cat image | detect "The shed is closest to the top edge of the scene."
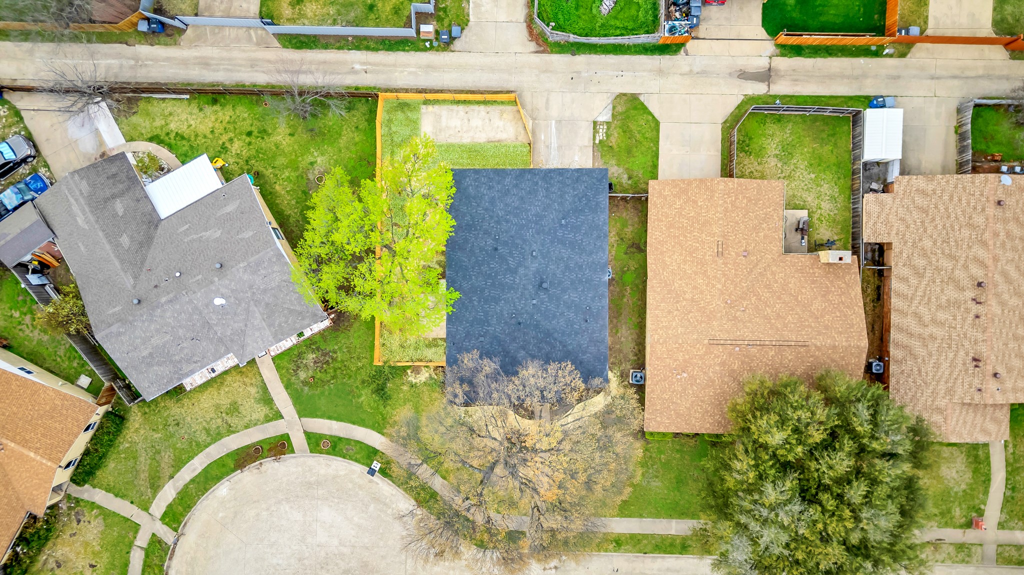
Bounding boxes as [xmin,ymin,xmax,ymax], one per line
[851,108,904,164]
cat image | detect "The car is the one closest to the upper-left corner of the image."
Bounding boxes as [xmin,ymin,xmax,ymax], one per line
[0,134,41,181]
